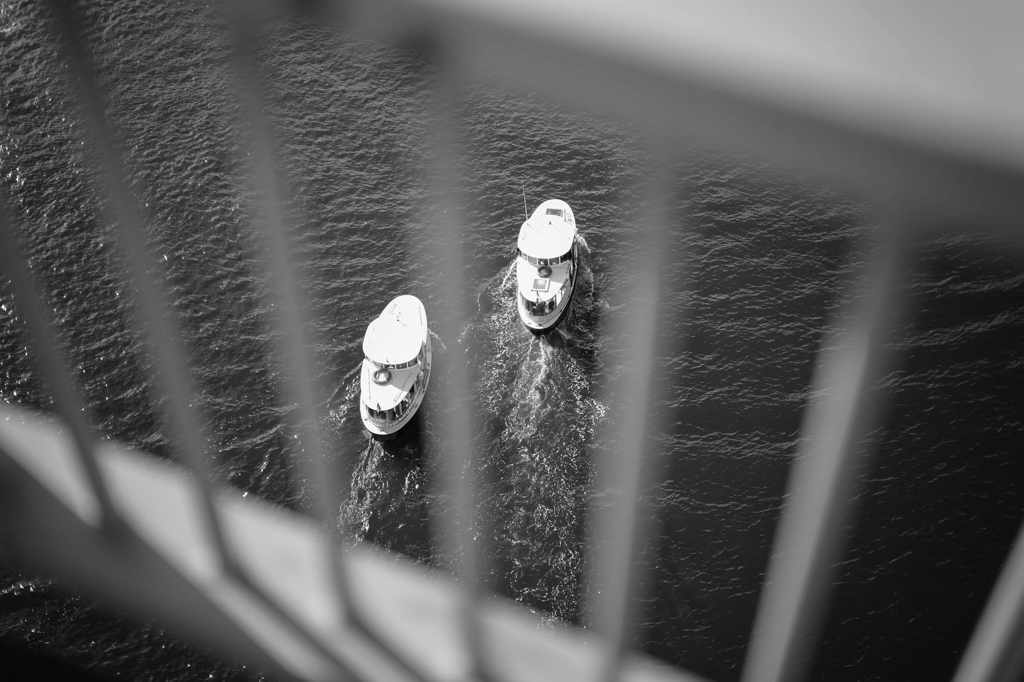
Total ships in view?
two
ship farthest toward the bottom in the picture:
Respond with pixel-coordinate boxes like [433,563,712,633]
[360,293,433,442]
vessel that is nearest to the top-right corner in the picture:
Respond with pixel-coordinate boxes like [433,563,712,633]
[516,169,581,337]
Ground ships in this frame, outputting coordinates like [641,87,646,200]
[516,169,581,337]
[360,293,433,442]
